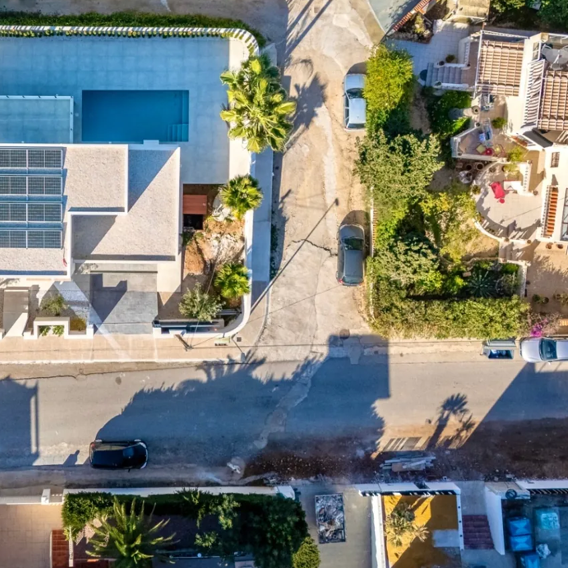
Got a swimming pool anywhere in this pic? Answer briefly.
Yes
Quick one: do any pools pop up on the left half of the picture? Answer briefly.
Yes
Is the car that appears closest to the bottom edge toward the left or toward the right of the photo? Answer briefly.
left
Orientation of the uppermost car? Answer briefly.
from top to bottom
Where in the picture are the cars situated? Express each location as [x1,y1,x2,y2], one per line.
[91,439,147,472]
[339,72,370,131]
[516,335,568,366]
[334,223,367,287]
